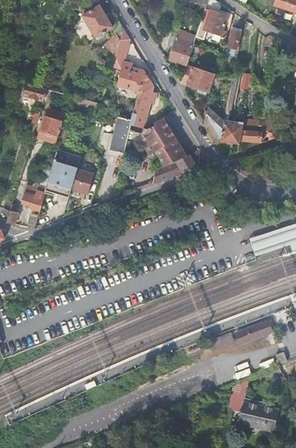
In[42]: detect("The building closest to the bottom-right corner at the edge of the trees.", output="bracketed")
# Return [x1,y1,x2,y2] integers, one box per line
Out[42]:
[238,400,280,432]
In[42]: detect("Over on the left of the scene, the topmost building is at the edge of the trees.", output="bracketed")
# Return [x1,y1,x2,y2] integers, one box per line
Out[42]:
[82,4,112,37]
